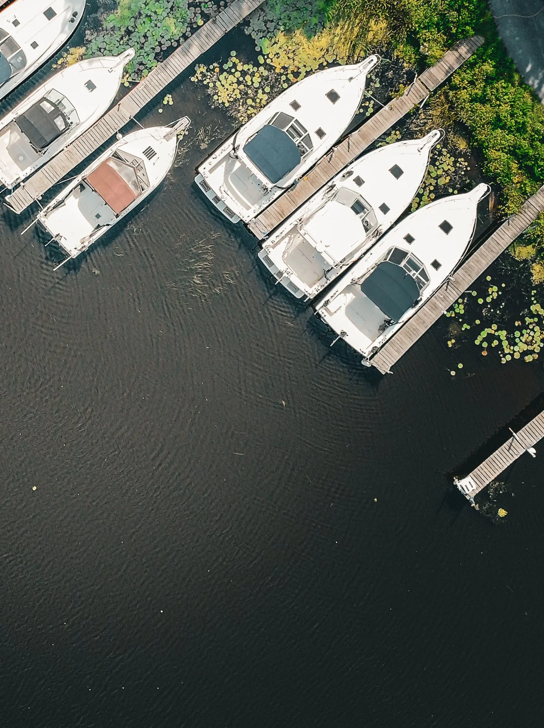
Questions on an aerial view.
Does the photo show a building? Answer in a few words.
No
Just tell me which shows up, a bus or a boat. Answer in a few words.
boat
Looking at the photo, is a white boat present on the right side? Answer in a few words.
Yes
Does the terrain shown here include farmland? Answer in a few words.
No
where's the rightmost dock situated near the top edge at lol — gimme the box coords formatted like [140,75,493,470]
[249,31,487,238]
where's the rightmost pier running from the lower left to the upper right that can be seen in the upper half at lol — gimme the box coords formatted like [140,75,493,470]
[371,183,544,374]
